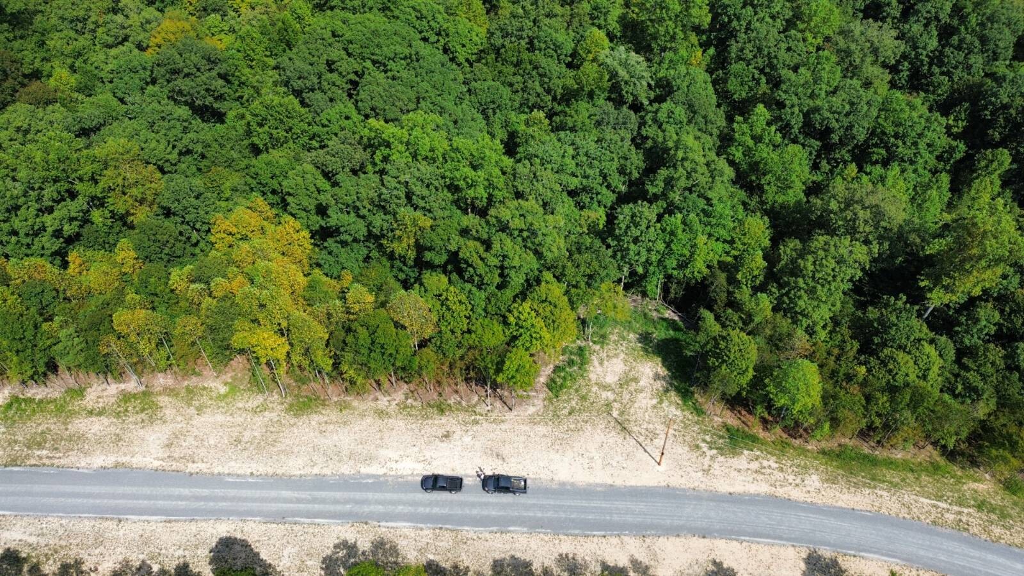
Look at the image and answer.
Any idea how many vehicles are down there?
2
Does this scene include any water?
No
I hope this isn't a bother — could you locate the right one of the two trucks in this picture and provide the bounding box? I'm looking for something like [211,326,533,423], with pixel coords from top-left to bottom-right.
[483,476,529,499]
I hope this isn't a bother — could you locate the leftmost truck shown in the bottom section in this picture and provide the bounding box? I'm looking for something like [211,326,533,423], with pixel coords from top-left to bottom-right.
[421,475,462,496]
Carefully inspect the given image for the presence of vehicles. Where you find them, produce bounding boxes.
[483,476,529,499]
[421,475,462,496]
